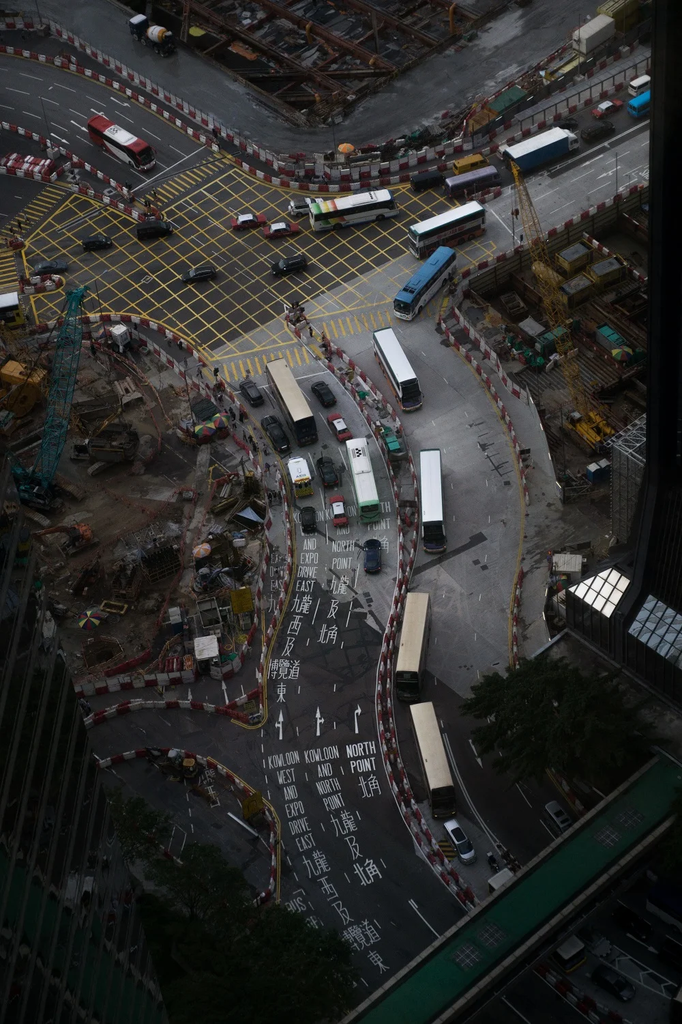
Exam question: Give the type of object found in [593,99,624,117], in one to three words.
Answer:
car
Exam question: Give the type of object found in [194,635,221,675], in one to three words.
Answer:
building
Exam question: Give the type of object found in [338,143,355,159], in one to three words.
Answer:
umbrella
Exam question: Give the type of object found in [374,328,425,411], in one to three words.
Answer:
bus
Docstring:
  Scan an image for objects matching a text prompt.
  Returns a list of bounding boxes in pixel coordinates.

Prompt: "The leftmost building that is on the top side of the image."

[109,324,130,349]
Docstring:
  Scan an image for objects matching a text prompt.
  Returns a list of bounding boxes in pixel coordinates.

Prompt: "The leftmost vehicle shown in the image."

[0,289,31,327]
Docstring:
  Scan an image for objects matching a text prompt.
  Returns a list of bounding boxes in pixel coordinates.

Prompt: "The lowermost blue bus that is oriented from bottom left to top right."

[392,247,457,317]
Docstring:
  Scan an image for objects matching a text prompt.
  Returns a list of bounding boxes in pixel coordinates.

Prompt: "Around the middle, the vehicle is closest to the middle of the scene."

[328,497,347,526]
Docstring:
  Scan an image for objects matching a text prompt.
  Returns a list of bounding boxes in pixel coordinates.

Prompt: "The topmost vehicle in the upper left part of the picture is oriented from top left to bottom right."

[130,14,177,55]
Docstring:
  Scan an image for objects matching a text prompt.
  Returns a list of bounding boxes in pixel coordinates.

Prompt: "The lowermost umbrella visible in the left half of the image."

[78,612,101,632]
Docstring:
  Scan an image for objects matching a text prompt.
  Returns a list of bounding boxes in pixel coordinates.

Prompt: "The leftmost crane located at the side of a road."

[10,286,121,516]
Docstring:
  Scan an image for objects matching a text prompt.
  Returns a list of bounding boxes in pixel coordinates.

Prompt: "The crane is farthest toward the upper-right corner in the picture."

[508,160,632,460]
